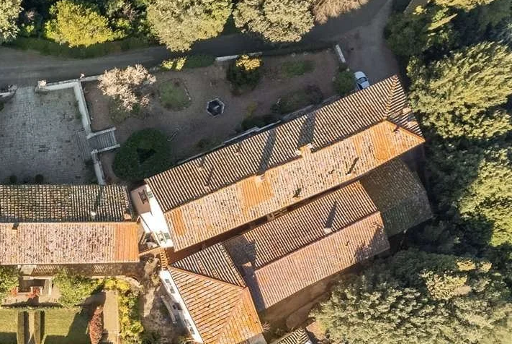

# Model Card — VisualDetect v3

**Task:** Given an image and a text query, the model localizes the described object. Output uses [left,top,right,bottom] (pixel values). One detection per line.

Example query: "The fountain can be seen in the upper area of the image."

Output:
[206,98,224,116]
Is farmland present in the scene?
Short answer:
No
